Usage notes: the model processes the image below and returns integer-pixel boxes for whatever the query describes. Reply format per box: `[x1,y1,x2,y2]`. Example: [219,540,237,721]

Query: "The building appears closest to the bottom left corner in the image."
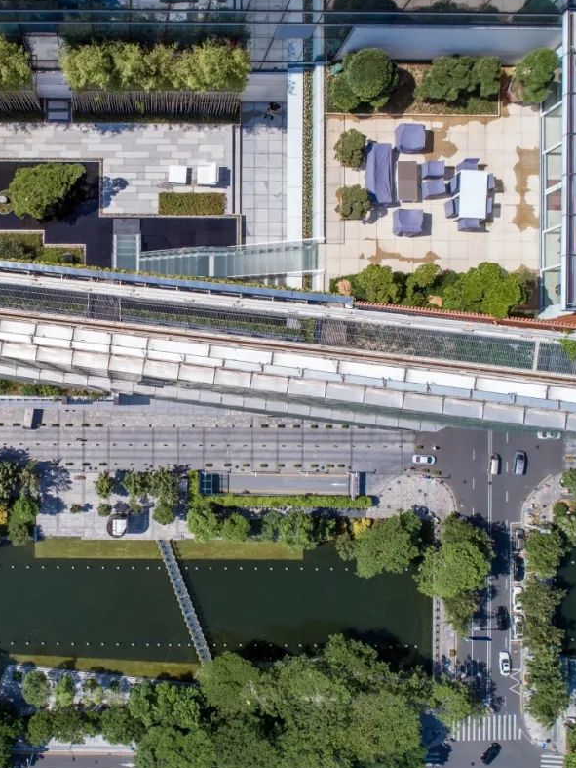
[106,511,129,538]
